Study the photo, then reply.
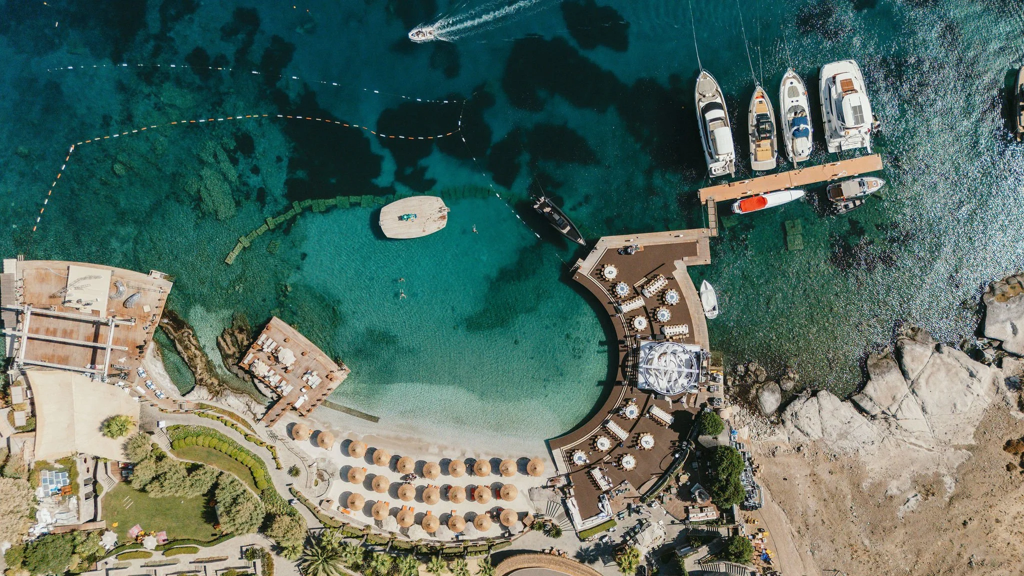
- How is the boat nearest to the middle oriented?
diagonally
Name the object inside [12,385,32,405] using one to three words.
building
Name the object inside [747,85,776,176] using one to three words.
boat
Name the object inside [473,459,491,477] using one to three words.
umbrella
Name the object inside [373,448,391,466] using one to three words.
umbrella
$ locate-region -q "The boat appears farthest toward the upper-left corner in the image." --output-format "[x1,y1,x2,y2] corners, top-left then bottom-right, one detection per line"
[408,27,435,41]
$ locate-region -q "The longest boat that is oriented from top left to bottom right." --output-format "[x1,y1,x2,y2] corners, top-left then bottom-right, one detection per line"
[530,197,585,245]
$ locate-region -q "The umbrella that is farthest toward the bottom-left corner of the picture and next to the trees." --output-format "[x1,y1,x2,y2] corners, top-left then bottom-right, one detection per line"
[102,532,119,548]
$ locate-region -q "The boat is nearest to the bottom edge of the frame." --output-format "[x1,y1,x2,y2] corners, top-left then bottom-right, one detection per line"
[700,280,717,320]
